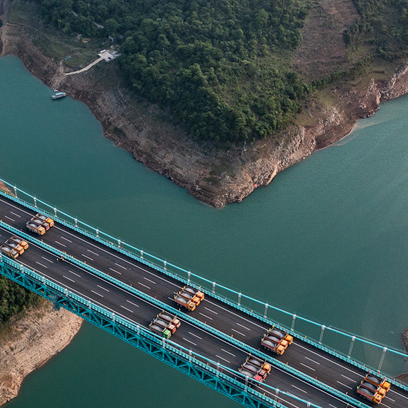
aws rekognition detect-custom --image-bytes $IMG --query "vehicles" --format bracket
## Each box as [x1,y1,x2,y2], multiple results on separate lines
[26,222,45,236]
[265,330,289,349]
[177,287,200,306]
[34,214,55,228]
[355,382,382,404]
[158,308,182,328]
[364,371,390,392]
[269,325,294,346]
[262,336,286,356]
[360,376,388,398]
[149,318,172,339]
[181,282,204,301]
[29,218,50,232]
[246,353,271,374]
[11,233,30,250]
[4,240,25,255]
[1,241,21,259]
[154,316,178,334]
[175,293,196,312]
[242,358,267,380]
